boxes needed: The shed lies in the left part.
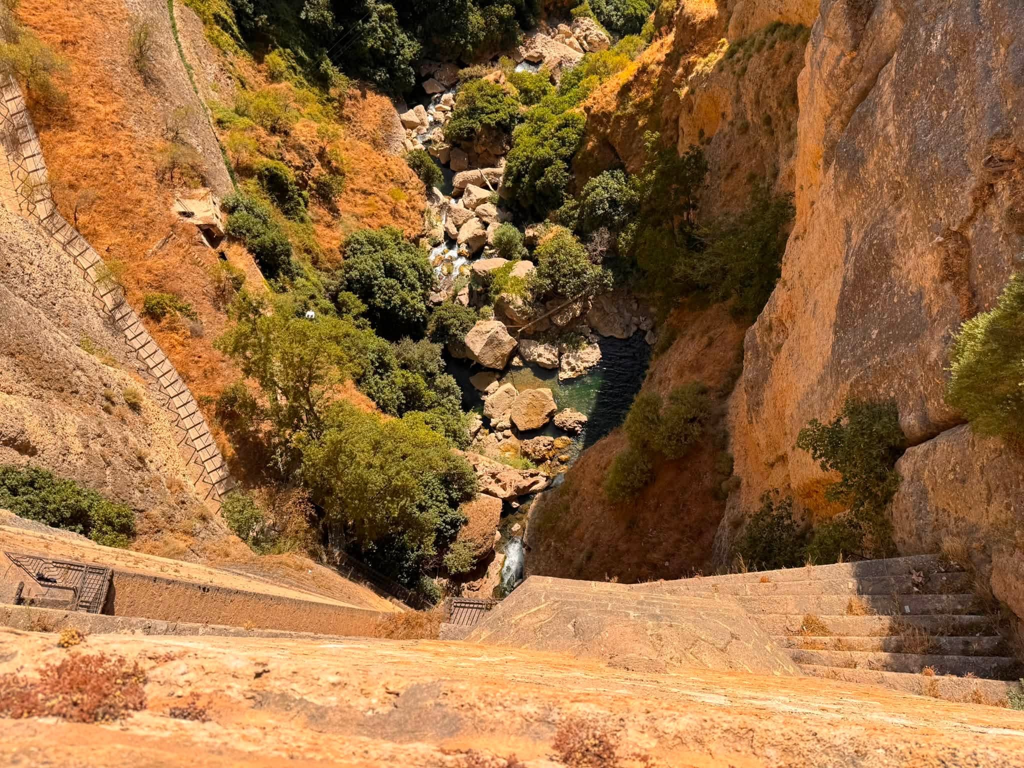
[169,192,233,257]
